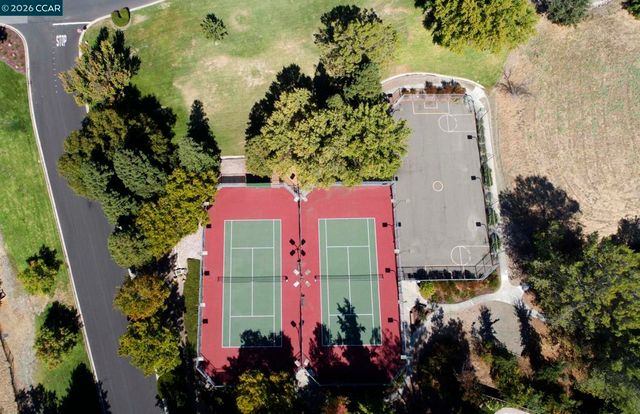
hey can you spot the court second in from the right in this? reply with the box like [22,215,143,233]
[299,184,402,382]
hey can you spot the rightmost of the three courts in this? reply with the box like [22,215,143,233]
[390,96,493,281]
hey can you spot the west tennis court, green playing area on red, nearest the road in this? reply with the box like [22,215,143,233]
[201,187,302,385]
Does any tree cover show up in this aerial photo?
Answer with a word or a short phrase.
Yes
